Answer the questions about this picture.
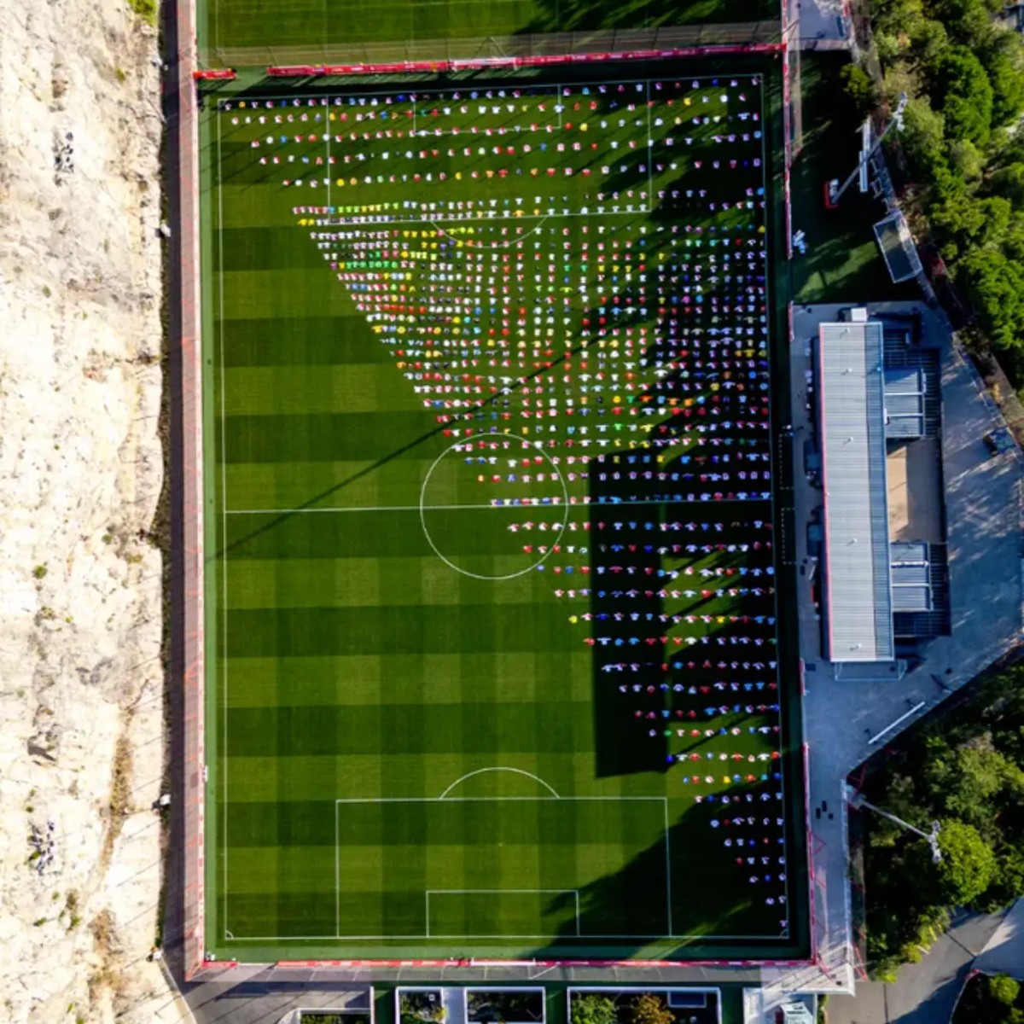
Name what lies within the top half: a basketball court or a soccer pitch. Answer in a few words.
soccer pitch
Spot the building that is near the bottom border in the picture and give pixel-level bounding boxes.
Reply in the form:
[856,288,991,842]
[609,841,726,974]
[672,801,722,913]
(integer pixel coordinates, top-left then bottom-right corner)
[739,981,820,1024]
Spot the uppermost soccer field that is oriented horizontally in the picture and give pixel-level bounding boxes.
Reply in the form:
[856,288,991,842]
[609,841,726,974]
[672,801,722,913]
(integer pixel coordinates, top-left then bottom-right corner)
[196,0,783,78]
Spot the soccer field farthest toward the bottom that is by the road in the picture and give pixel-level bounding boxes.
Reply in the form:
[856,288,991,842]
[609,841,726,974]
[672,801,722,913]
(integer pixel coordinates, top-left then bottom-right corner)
[197,51,811,962]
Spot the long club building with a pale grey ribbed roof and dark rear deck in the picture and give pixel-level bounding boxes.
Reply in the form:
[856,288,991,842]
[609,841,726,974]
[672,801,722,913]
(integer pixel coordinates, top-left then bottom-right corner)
[804,307,949,663]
